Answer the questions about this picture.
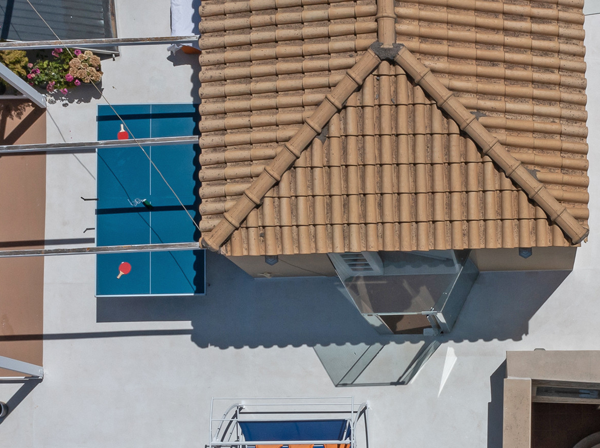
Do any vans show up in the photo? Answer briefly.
No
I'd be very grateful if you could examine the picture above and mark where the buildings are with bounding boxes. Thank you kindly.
[531,381,600,409]
[192,0,594,273]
